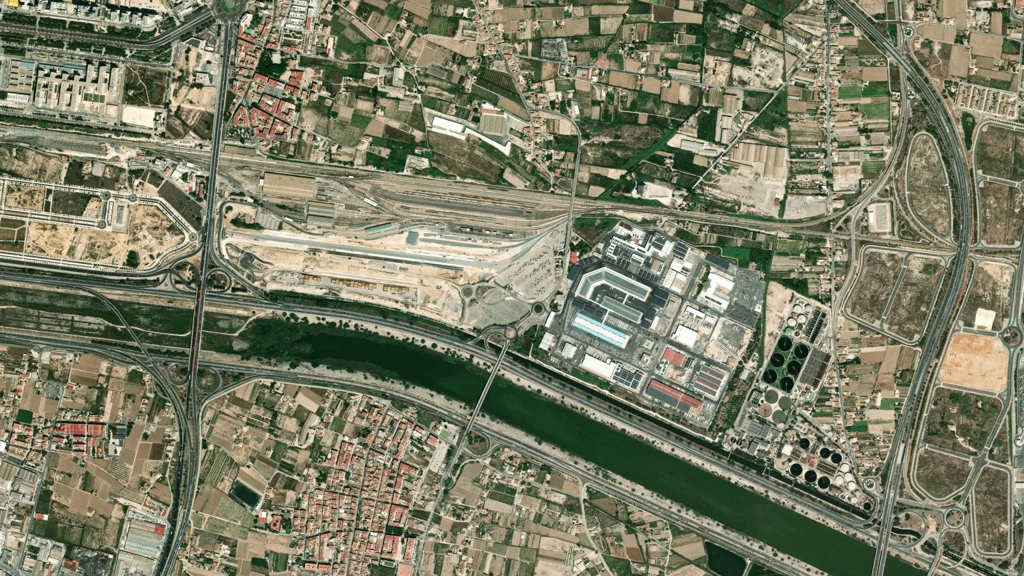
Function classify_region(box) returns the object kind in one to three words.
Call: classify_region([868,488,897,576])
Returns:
bridge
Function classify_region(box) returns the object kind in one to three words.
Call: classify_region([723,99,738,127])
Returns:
shed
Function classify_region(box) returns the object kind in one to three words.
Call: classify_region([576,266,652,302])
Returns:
building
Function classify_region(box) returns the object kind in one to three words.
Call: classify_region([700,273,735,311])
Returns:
building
